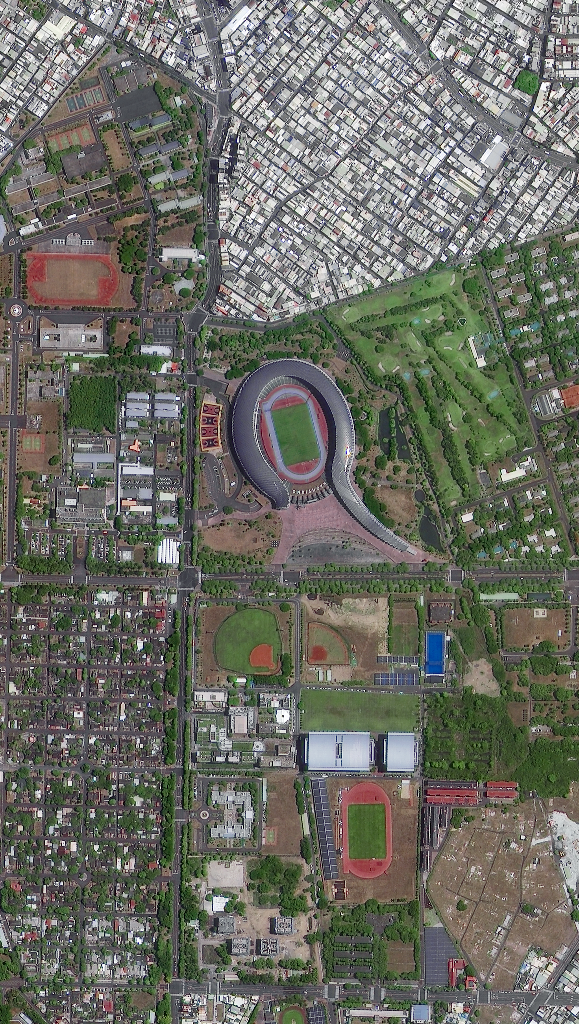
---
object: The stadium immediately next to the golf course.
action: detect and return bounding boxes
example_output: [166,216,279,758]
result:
[232,358,417,555]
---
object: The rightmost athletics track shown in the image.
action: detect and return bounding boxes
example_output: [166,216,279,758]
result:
[343,783,392,880]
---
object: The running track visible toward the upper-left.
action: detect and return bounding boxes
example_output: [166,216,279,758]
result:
[27,252,119,305]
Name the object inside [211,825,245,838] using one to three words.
building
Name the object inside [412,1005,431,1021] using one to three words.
shed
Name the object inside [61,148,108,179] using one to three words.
building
